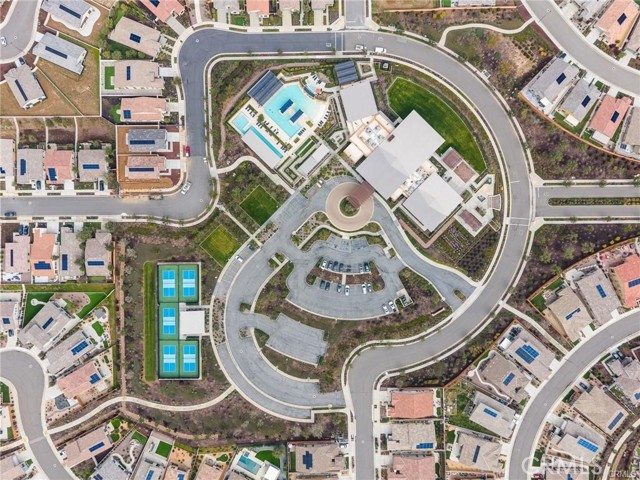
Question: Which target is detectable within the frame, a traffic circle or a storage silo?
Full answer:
Looking from above, you can make out a traffic circle.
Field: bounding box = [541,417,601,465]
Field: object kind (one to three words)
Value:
house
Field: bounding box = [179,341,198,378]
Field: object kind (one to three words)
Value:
sports court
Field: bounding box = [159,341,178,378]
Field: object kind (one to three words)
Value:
sports court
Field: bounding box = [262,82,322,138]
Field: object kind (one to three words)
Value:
swimming pool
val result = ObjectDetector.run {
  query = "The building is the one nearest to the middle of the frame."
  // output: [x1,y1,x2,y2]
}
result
[298,142,332,177]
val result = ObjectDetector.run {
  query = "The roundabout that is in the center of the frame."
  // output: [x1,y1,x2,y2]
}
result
[325,182,374,231]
